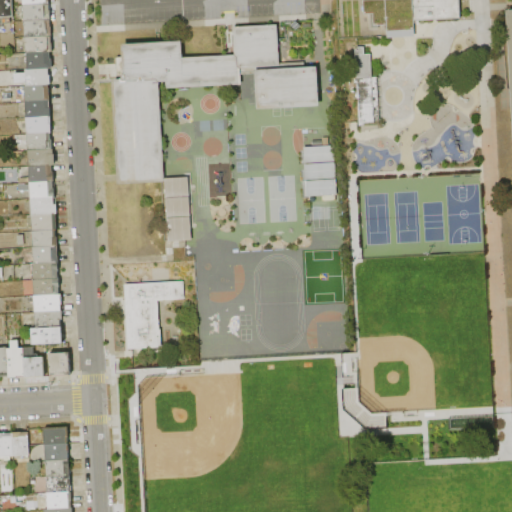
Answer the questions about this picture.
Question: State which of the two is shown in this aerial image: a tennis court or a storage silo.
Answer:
tennis court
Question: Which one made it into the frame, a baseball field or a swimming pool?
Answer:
baseball field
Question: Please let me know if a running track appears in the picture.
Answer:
Yes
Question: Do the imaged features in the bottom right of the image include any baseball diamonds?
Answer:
Yes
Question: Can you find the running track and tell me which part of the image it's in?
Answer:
center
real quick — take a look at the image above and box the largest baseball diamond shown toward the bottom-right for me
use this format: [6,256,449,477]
[358,335,436,411]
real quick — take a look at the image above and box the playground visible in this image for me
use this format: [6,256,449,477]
[160,13,340,261]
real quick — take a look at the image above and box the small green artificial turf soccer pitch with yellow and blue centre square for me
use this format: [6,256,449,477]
[303,250,344,304]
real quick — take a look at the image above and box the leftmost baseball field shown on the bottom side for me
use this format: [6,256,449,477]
[141,372,244,480]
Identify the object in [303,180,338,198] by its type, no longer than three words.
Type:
house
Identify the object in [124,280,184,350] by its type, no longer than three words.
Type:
building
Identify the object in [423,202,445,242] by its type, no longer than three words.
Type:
sports court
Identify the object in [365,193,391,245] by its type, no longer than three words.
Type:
tennis court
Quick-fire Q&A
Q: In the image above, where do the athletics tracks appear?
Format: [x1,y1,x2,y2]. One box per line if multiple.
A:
[255,254,306,350]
